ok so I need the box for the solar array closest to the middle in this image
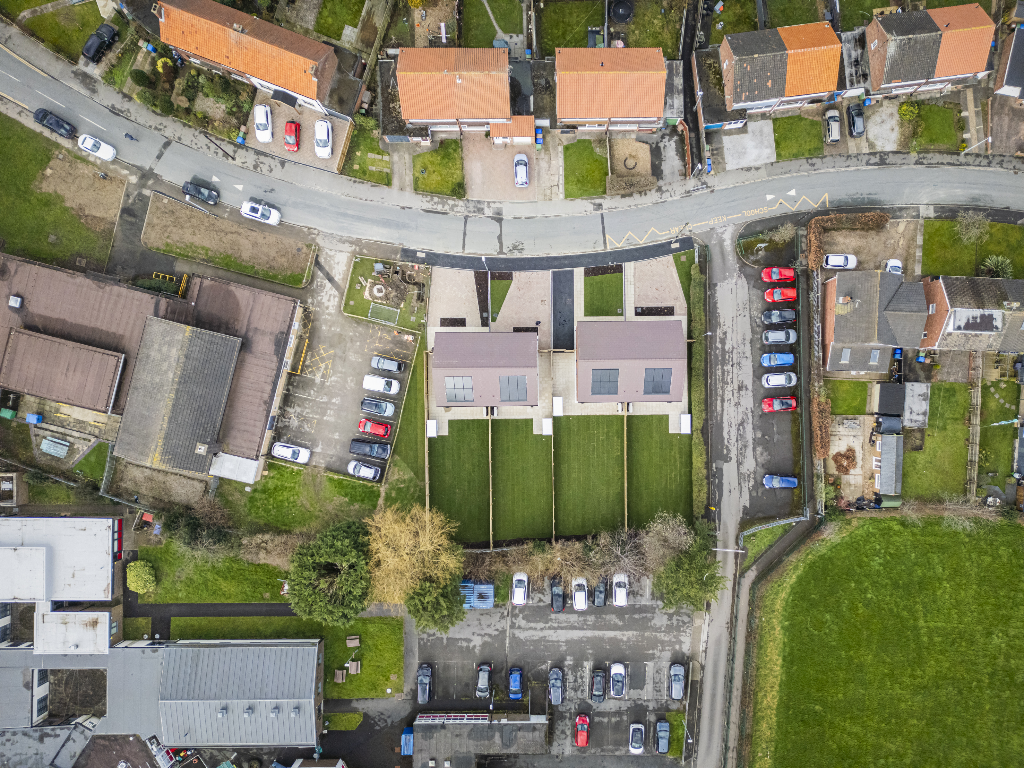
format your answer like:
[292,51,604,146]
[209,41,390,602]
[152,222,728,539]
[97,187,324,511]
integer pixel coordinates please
[498,376,527,401]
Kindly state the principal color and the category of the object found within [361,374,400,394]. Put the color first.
white vehicle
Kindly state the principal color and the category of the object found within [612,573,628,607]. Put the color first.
white car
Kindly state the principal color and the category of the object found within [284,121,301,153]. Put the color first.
red car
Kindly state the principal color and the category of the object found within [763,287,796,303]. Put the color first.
red car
